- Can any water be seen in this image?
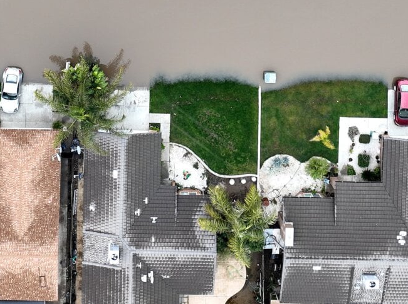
Yes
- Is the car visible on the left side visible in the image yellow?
No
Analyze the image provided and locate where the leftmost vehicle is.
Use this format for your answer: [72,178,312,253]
[0,63,25,114]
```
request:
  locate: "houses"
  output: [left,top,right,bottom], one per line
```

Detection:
[0,126,62,300]
[281,136,408,304]
[81,129,216,304]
